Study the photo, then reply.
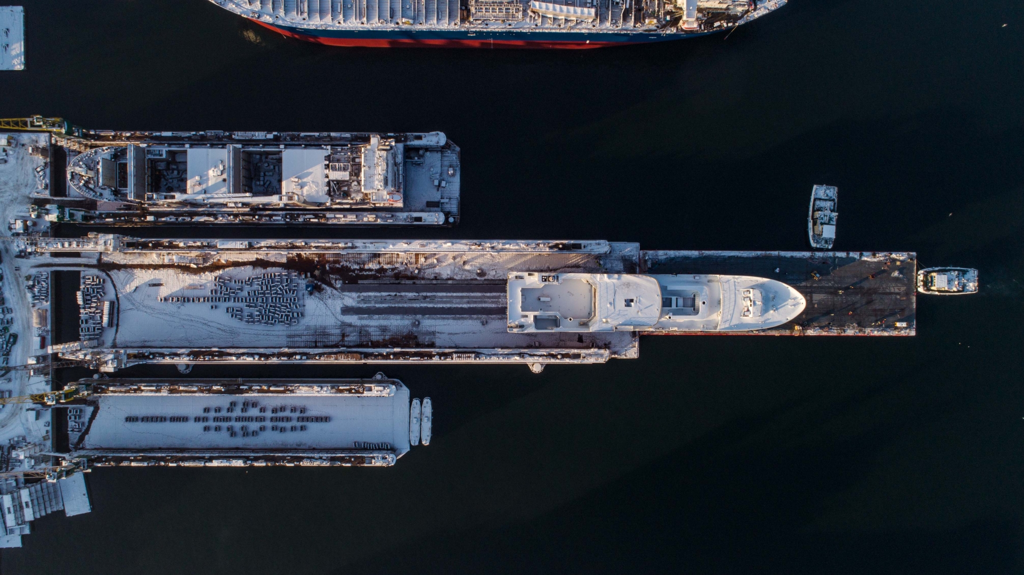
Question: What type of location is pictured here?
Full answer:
It's a port.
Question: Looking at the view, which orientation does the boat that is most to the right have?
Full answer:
In this picture, the boat that is most to the right is oriented horizontally.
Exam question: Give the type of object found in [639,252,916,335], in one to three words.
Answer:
ship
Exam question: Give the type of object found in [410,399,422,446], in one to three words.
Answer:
boat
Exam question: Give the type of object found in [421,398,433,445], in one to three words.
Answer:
boat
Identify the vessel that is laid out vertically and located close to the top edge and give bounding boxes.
[0,6,28,71]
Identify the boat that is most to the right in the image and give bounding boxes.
[916,266,978,295]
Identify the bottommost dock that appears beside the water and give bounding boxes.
[0,477,64,547]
